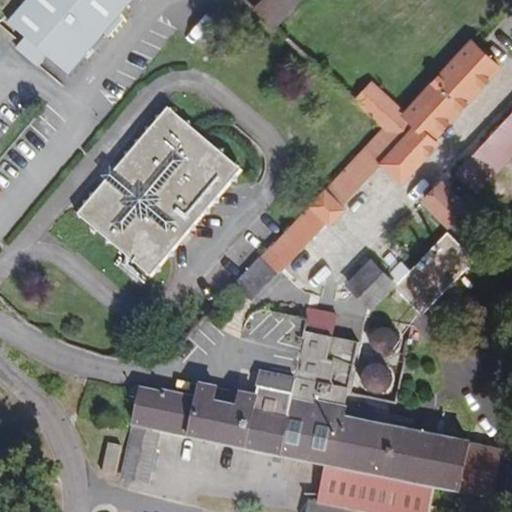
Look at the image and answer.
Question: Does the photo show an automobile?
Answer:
Yes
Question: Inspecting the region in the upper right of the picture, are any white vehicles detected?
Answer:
Yes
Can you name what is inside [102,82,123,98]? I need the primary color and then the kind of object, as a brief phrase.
gray car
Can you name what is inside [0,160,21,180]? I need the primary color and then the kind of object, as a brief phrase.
white car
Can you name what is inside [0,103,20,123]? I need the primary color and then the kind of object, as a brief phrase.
white car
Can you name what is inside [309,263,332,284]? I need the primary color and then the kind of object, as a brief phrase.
white vehicle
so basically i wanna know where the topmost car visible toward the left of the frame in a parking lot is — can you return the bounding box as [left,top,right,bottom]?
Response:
[128,54,148,68]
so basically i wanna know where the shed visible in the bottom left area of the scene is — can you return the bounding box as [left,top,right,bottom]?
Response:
[102,442,121,473]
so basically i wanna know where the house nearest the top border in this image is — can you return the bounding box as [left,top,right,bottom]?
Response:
[252,0,312,34]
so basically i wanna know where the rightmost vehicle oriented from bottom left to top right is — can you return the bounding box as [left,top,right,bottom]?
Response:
[408,178,430,200]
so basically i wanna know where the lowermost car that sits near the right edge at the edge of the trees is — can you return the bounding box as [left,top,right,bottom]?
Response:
[478,414,498,435]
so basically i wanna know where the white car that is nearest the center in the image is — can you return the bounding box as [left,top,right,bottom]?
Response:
[246,232,263,248]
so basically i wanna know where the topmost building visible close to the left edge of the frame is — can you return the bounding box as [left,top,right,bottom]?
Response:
[9,0,140,76]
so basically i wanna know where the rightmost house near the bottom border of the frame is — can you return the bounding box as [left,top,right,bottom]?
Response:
[122,369,502,512]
